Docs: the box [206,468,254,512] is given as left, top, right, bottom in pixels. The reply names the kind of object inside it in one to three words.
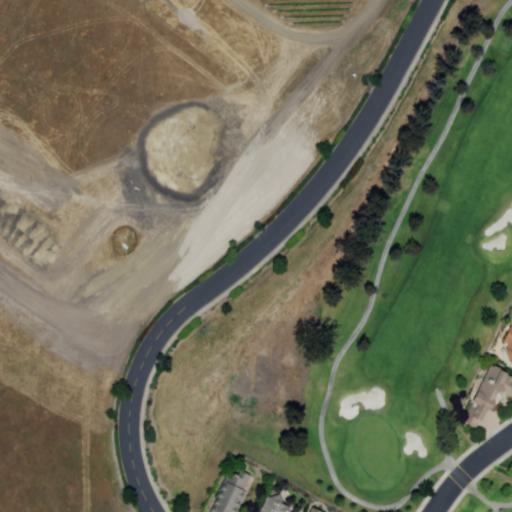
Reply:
house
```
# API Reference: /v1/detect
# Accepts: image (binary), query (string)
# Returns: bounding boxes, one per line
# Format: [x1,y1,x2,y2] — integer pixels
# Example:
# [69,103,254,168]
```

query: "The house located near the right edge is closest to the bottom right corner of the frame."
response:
[465,366,512,427]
